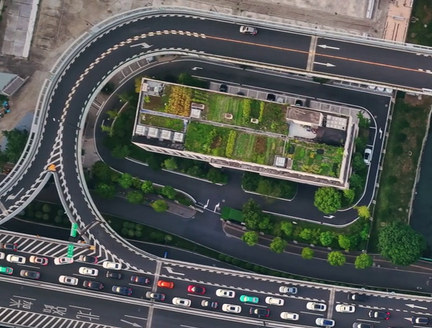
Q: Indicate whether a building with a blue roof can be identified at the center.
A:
No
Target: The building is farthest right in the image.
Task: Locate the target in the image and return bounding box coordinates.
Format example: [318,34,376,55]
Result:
[130,77,359,189]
